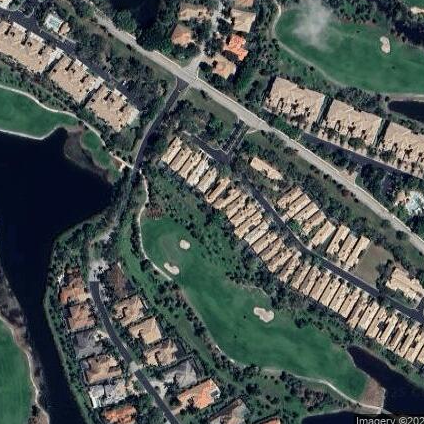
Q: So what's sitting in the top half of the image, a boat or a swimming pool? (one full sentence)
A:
You can see a swimming pool in the top half of the image.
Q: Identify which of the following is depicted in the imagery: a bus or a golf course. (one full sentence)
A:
There is a golf course in the scene.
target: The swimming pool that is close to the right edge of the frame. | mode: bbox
[403,191,424,213]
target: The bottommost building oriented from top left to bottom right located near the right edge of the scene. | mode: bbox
[387,268,424,300]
